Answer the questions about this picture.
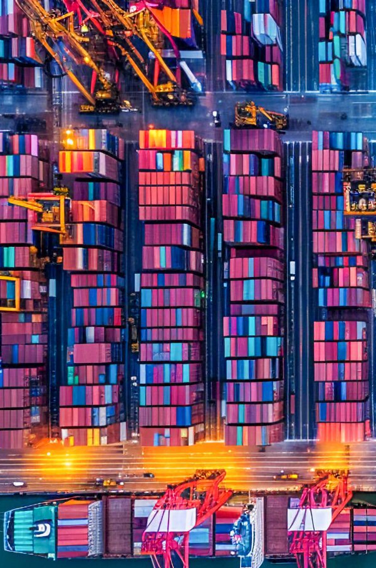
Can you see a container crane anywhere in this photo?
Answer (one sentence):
Yes, the picture does show a container crane.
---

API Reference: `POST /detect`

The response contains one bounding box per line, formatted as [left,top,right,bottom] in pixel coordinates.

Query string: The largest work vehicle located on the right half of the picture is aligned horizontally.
[234,102,289,128]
